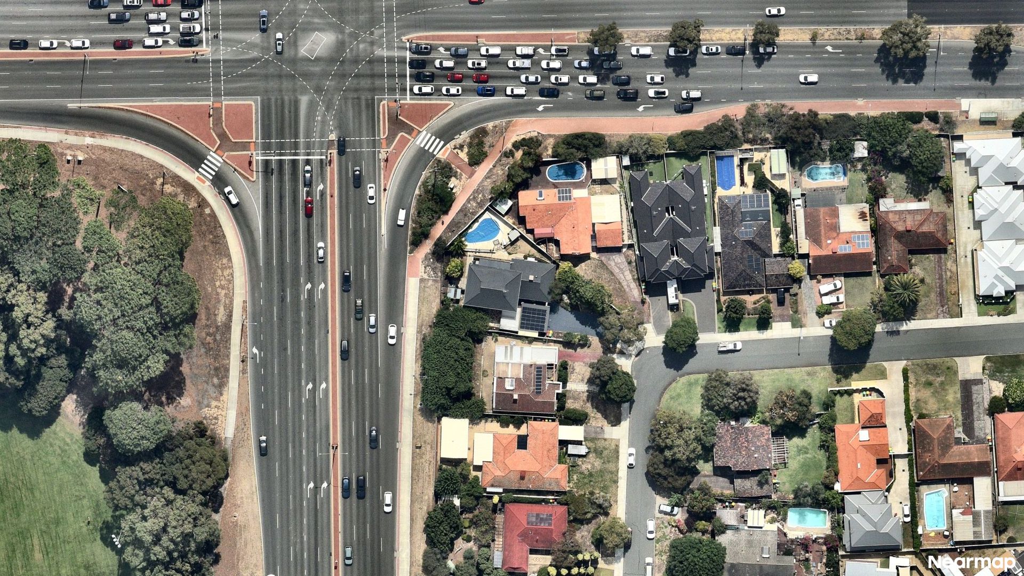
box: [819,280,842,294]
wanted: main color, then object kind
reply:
white car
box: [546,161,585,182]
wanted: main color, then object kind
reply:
blue swimming pool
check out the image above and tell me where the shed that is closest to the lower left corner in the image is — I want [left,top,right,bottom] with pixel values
[440,417,468,458]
